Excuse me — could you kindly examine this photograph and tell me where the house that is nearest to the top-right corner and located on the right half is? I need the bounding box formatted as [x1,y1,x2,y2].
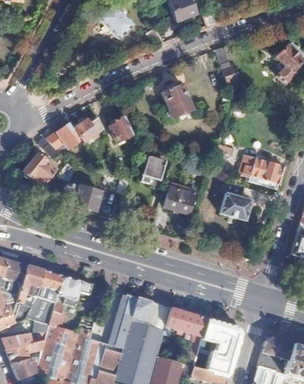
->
[276,42,304,82]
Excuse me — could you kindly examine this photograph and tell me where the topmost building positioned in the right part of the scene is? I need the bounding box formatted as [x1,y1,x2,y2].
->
[168,0,200,24]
